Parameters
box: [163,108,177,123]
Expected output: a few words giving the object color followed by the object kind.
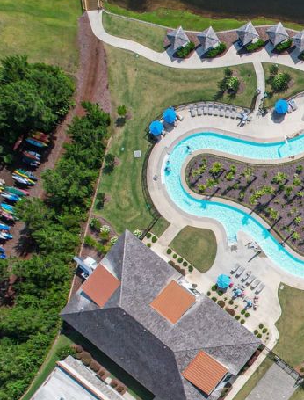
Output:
blue umbrella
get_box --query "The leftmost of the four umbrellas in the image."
[148,120,164,135]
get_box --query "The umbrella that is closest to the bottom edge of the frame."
[216,273,232,288]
